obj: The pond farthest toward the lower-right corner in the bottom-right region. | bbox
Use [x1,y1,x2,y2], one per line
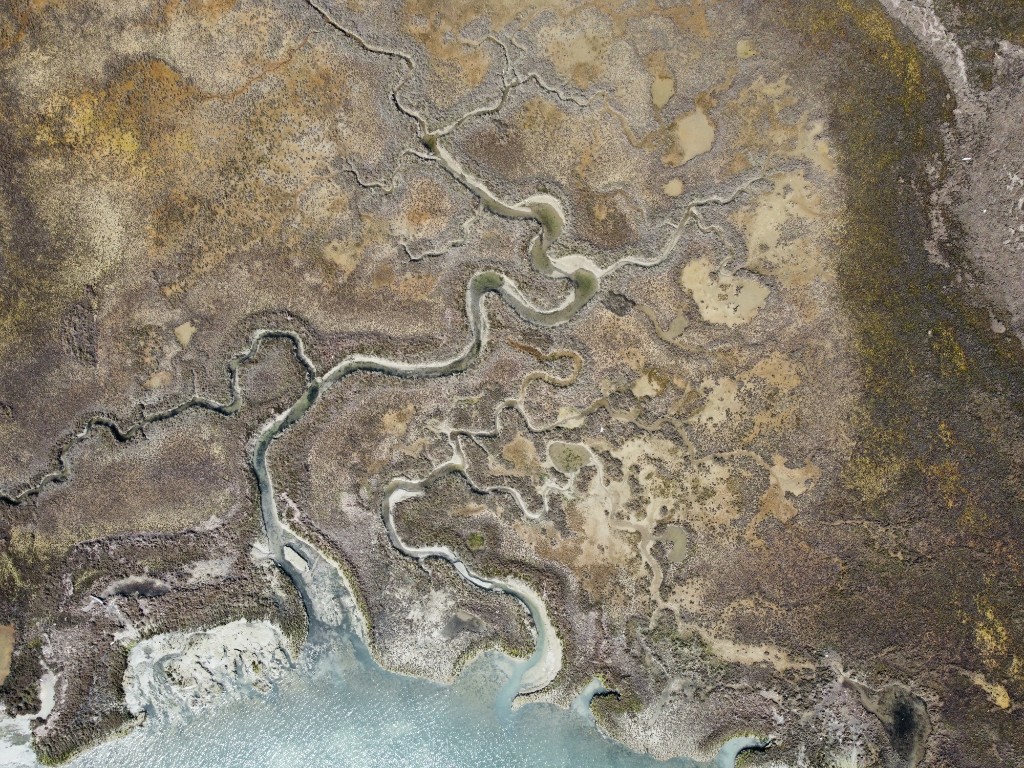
[870,680,929,768]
